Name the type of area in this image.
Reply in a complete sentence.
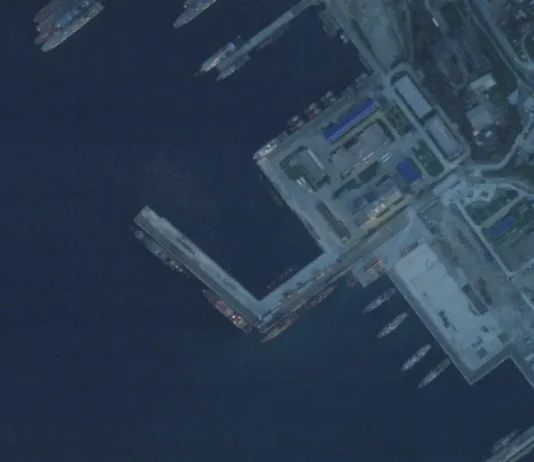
This looks like a port.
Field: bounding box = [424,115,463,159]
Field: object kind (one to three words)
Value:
building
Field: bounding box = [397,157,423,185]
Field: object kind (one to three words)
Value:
building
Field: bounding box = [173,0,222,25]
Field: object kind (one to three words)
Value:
ship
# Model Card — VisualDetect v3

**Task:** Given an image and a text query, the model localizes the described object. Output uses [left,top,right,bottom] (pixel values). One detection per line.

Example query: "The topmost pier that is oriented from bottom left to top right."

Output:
[216,0,319,72]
